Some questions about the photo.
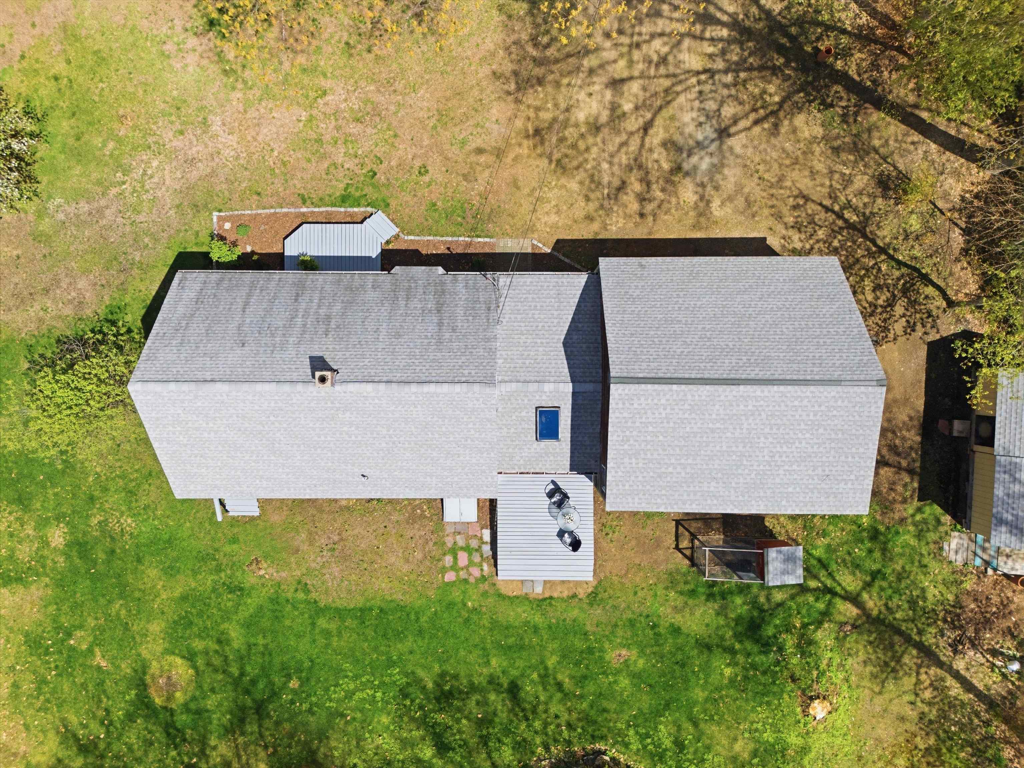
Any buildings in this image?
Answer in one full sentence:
Yes, there's a building here.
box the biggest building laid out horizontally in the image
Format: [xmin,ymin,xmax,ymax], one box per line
[128,257,888,515]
